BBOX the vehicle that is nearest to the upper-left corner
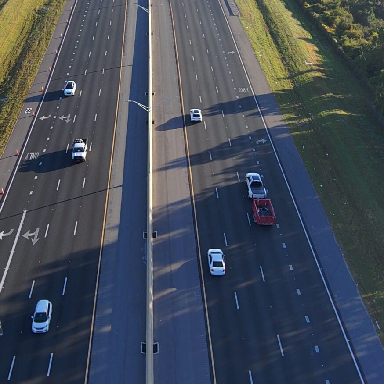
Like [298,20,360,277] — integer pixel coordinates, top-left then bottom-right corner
[64,83,76,95]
